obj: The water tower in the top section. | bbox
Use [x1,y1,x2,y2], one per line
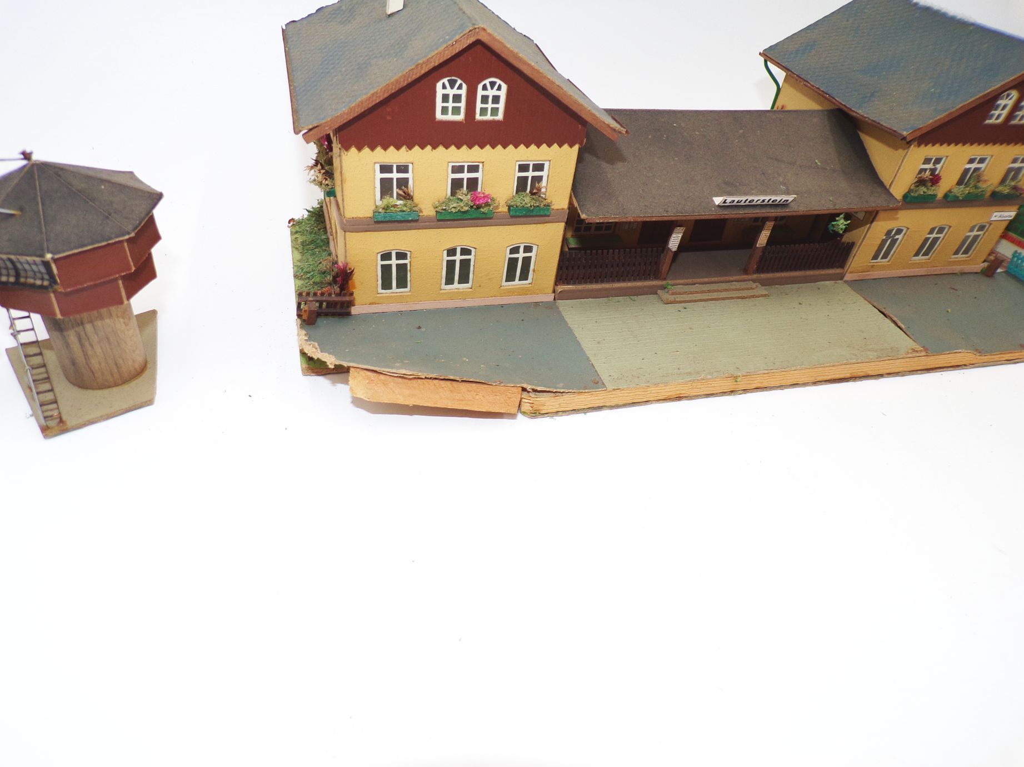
[0,144,164,442]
